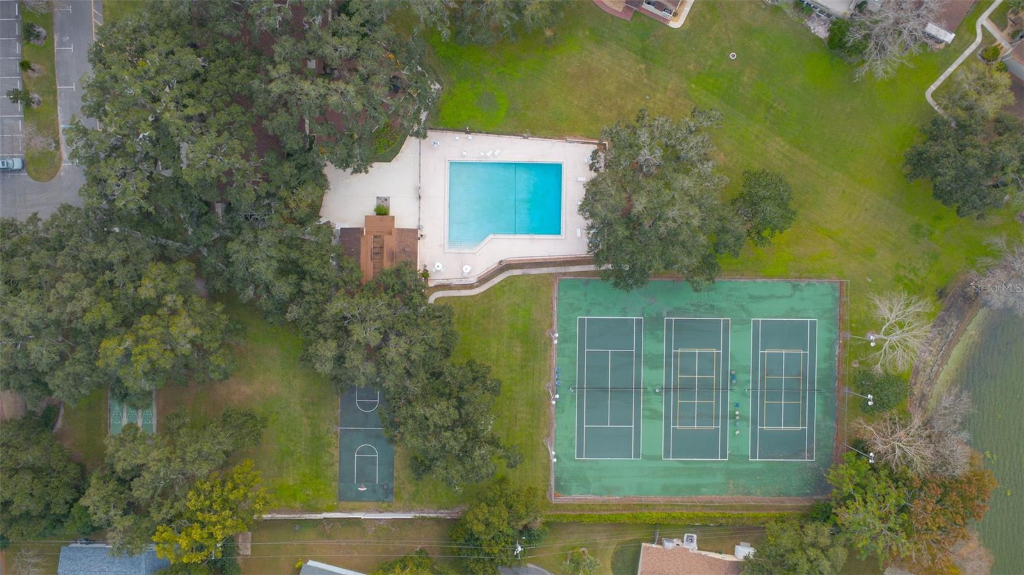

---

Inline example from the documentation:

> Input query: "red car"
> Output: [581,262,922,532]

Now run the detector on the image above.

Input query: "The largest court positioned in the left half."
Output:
[337,381,396,502]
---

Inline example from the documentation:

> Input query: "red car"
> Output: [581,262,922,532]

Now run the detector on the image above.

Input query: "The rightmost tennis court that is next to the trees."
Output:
[749,318,818,461]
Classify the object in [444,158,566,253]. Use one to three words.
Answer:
swimming pool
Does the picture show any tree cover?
Yes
